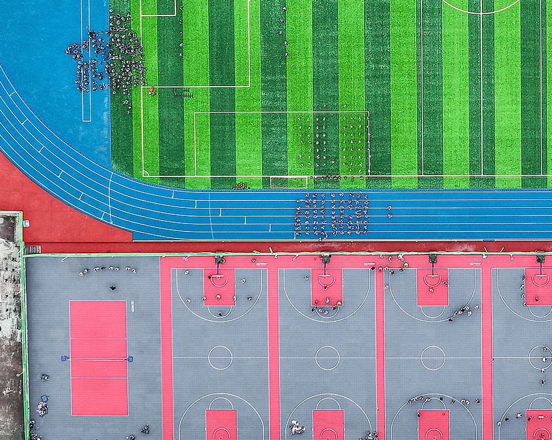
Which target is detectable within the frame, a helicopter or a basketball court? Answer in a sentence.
Visible in the photo is a basketball court.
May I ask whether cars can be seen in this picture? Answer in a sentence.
No, there's no car here.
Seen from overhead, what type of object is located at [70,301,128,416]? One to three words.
sports court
